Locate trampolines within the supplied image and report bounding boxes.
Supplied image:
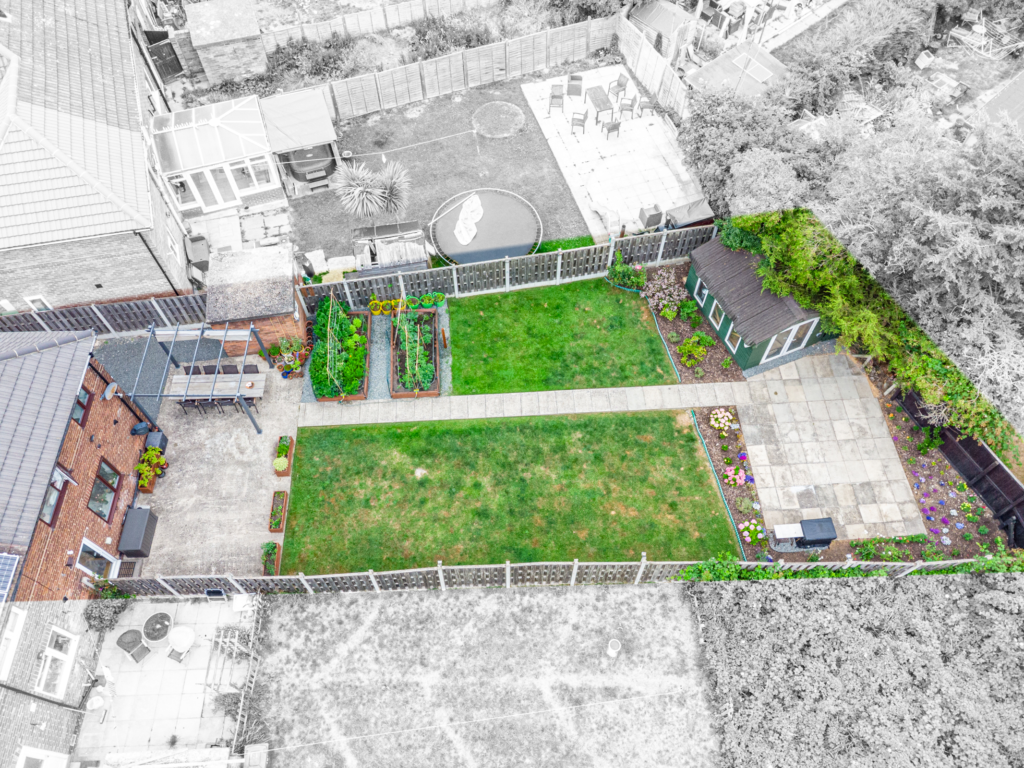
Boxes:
[430,189,543,266]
